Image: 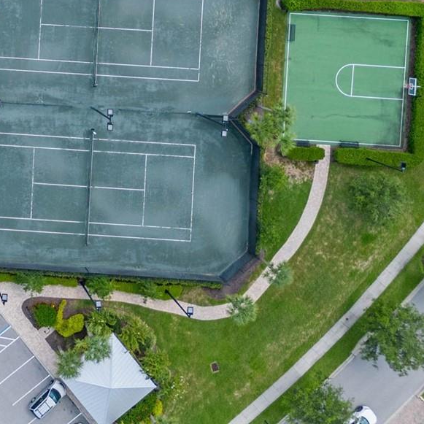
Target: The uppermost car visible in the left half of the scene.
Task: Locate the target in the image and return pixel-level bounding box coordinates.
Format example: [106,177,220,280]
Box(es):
[28,383,67,422]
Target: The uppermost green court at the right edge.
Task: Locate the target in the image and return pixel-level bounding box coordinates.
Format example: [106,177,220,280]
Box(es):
[282,11,411,148]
